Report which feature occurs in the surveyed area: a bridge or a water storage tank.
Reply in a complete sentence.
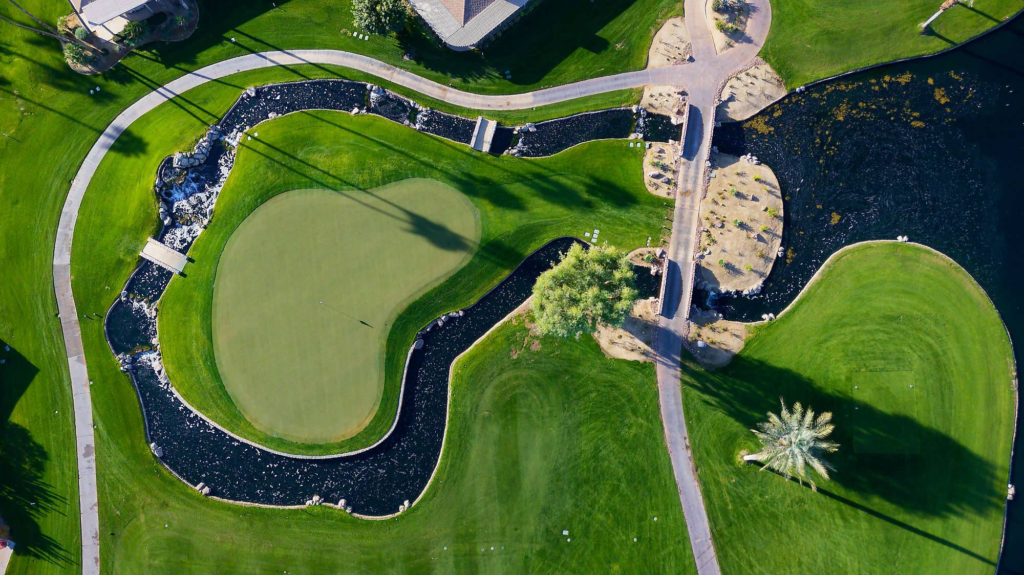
Looking from above, you can make out a bridge.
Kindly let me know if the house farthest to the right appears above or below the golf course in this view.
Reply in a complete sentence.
It's above the golf course that the house farthest to the right shows up.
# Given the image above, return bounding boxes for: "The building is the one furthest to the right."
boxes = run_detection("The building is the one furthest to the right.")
[406,0,540,54]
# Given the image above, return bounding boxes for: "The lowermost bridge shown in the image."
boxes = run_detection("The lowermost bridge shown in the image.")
[657,257,696,319]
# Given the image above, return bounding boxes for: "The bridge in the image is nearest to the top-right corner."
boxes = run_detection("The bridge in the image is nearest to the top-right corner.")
[679,101,717,160]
